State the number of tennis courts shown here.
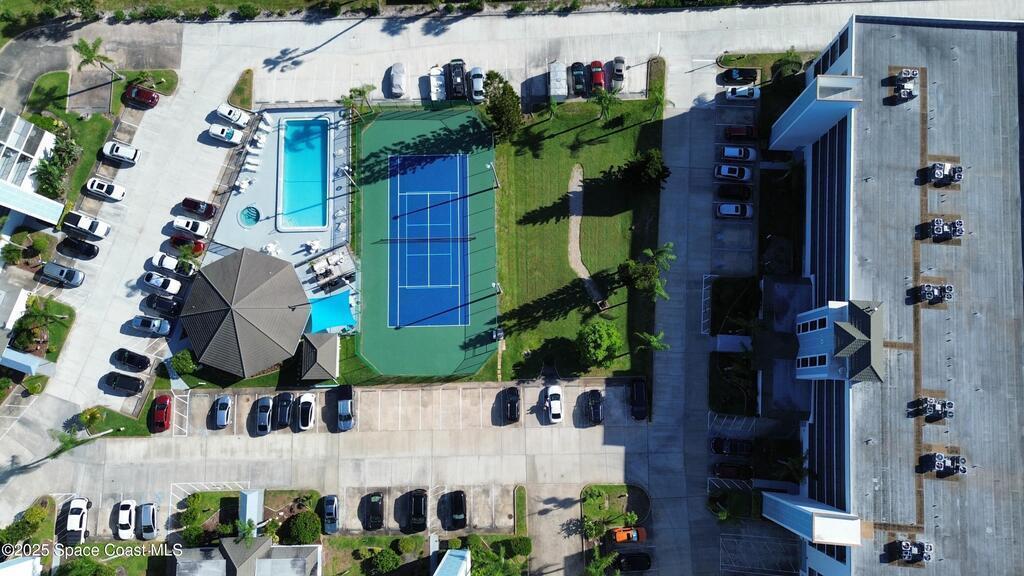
1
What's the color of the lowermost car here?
black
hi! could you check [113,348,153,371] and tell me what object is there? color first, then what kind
black car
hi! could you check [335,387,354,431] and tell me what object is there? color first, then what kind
blue vehicle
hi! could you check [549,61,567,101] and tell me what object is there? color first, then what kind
white trailer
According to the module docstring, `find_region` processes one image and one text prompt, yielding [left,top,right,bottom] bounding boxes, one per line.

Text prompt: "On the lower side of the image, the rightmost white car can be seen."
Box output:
[547,386,564,423]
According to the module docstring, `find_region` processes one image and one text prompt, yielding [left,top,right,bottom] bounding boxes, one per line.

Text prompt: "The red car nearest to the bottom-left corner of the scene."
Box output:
[153,395,173,431]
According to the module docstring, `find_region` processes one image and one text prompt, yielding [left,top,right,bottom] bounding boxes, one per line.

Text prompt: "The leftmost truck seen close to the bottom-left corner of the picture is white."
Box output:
[65,498,91,544]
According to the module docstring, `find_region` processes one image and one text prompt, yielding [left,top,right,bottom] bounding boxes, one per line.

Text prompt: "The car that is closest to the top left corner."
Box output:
[127,86,160,106]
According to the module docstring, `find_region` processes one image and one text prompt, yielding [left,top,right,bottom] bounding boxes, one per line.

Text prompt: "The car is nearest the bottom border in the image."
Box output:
[617,552,652,572]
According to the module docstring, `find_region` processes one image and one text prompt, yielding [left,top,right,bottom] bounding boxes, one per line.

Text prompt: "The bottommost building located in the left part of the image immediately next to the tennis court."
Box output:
[301,333,340,380]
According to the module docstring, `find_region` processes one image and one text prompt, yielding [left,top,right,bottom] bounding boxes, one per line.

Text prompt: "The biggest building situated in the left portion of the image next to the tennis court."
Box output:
[180,248,312,379]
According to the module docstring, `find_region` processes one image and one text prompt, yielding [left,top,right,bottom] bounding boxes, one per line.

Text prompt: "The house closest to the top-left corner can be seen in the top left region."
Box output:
[0,106,64,178]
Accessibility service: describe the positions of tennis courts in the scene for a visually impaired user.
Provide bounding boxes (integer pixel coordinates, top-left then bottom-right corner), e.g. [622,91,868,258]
[361,109,497,374]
